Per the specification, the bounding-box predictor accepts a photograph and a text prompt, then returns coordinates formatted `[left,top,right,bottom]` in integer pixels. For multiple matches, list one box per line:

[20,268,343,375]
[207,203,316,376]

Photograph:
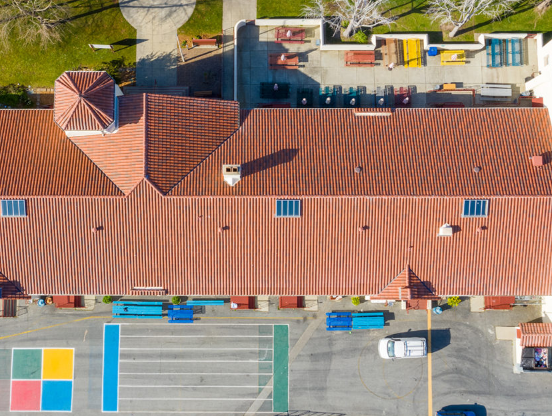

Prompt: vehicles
[434,409,476,416]
[378,337,429,360]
